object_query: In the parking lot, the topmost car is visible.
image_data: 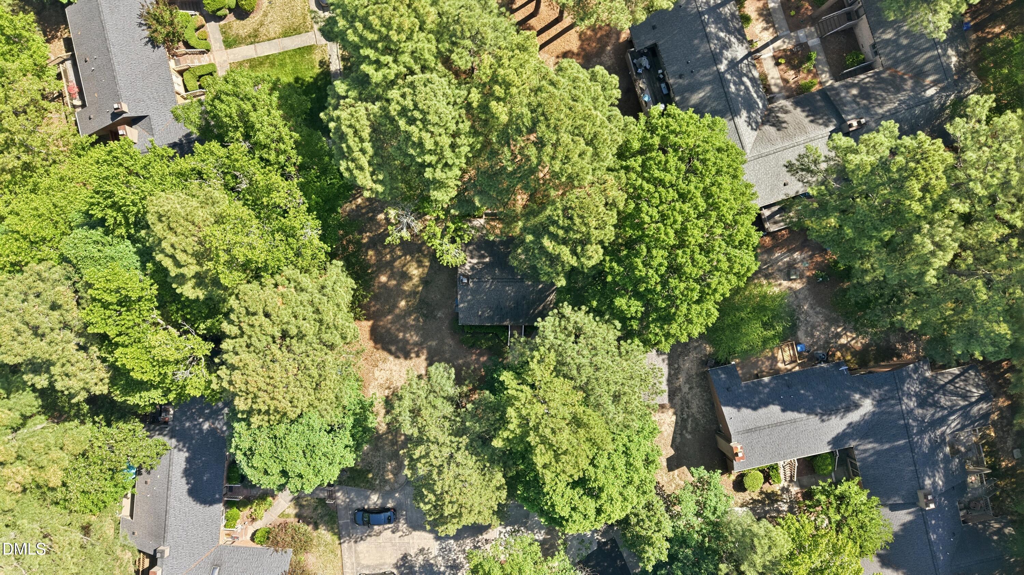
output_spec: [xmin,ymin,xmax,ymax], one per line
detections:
[355,505,397,528]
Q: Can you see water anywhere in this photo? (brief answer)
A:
No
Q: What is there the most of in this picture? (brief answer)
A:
trees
